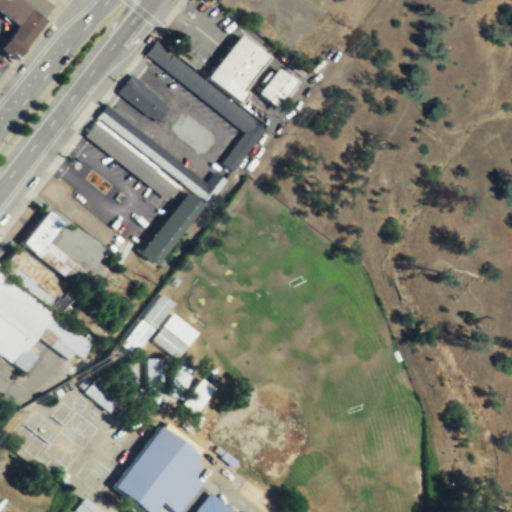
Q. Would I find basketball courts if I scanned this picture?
Yes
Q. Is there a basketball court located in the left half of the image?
Yes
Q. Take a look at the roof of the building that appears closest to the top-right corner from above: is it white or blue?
white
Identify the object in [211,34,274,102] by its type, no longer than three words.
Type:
building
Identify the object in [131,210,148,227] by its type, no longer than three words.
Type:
vehicle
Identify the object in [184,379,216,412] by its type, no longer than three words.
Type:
house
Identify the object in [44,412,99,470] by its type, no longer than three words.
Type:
basketball court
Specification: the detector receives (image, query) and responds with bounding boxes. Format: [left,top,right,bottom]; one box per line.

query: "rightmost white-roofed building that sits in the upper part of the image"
[262,68,301,106]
